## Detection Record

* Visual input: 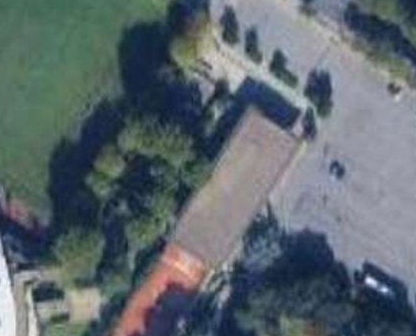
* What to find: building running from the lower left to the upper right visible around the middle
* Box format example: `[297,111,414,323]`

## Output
[171,106,302,270]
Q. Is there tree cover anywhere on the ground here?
Yes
